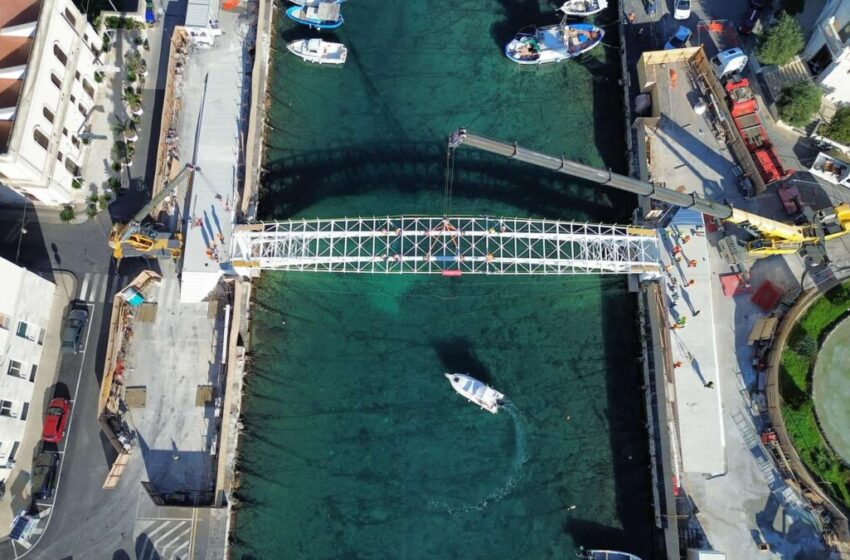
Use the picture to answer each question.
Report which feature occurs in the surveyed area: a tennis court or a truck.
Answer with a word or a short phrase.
truck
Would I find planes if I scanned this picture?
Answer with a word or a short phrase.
No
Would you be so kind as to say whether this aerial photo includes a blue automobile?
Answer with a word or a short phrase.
Yes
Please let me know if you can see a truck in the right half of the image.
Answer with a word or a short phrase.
Yes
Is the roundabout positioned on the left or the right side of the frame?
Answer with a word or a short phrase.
right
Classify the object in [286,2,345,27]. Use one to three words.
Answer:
boat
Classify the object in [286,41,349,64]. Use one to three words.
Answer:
boat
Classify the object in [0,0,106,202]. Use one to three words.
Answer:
building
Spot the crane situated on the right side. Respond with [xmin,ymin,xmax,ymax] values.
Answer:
[442,126,850,285]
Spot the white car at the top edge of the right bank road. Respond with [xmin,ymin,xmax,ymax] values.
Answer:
[672,0,693,22]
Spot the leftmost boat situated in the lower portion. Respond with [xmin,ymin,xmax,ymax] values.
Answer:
[445,373,503,414]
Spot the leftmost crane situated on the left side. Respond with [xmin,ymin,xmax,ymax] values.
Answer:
[107,163,218,273]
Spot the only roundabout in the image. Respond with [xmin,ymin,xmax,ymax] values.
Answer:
[778,273,850,497]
